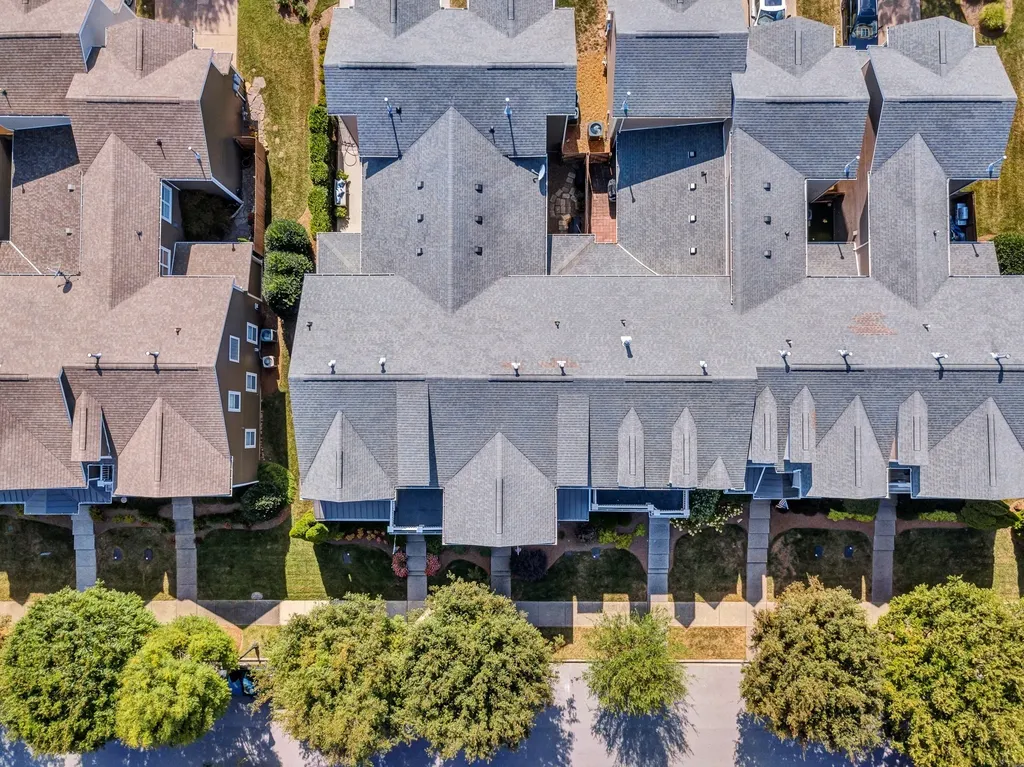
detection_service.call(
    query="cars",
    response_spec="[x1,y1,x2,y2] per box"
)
[756,0,789,24]
[845,0,887,55]
[206,662,274,698]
